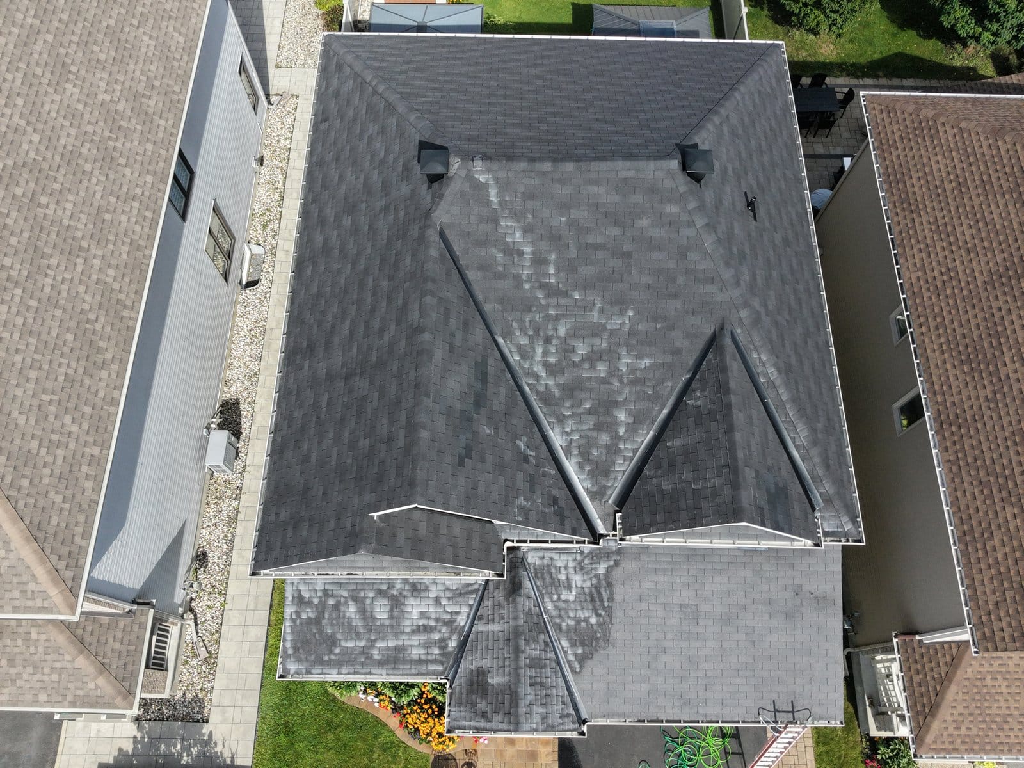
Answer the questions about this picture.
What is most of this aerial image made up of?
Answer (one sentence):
The largest share of the image is taken up by buildings.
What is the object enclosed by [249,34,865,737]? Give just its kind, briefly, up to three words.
house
